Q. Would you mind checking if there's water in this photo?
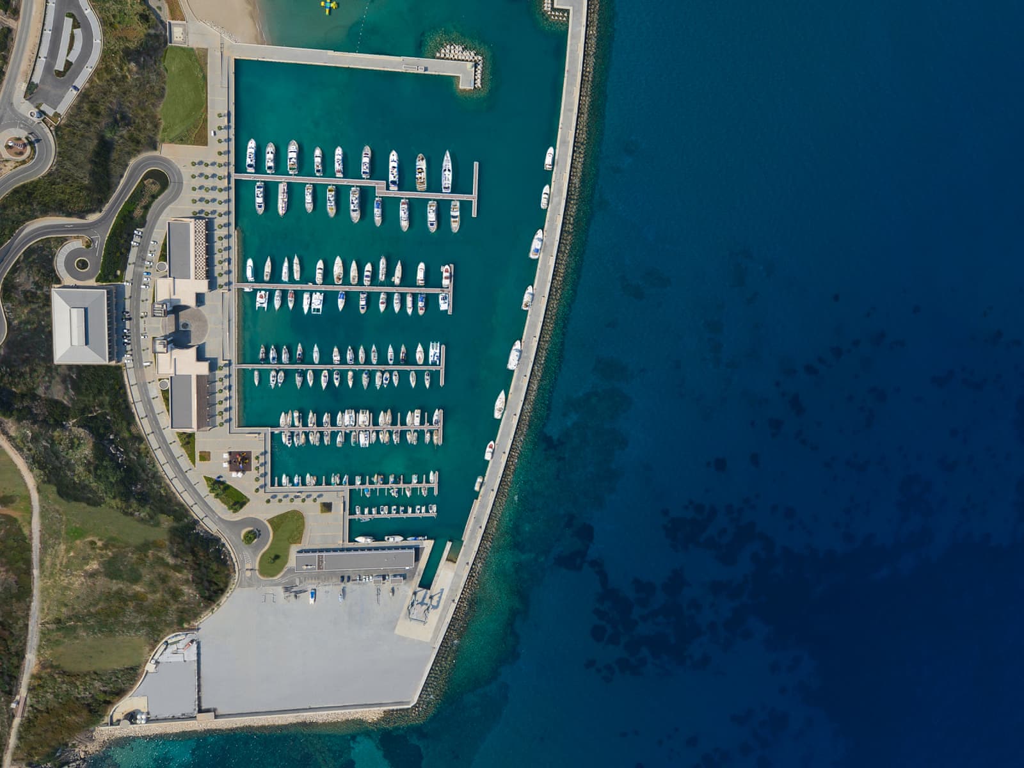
Yes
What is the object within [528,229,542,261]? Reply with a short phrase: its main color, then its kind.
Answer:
white boat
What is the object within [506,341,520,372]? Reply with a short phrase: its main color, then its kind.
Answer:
white boat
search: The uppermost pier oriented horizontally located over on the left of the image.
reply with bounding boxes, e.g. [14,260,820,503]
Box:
[228,41,475,89]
